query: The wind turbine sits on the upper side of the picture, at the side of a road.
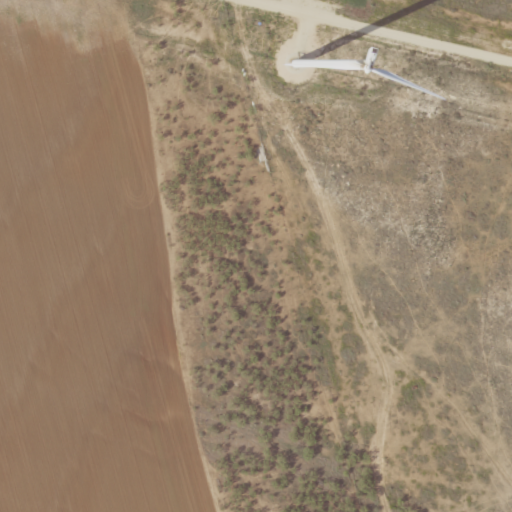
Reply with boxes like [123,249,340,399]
[286,46,444,98]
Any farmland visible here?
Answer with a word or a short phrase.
Yes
